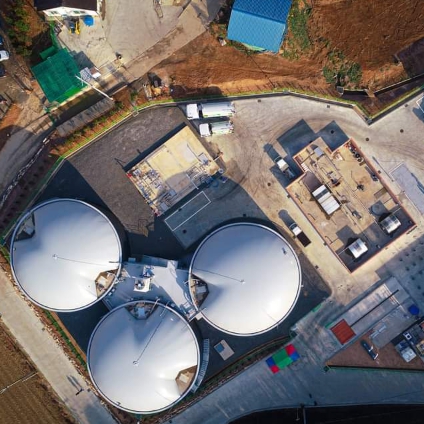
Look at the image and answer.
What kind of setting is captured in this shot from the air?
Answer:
industrial area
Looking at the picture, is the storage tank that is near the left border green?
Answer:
No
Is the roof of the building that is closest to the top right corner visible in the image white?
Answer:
No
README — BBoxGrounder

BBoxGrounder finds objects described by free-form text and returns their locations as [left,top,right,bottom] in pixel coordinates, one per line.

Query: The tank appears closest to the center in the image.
[187,222,301,334]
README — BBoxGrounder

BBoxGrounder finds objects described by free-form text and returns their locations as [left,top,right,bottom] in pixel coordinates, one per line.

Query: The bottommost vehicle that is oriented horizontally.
[199,121,235,138]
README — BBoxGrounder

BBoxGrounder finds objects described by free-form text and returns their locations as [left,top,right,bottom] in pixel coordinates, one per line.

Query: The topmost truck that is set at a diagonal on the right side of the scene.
[274,155,299,182]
